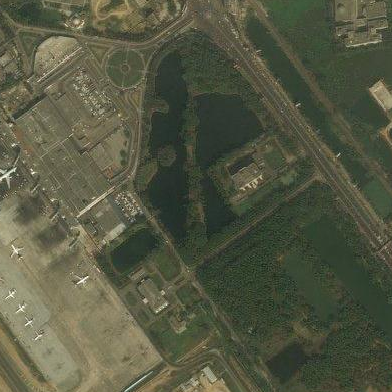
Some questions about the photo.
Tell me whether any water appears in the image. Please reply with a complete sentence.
Yes, the picture does contain water.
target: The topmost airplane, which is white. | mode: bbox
[0,167,17,188]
